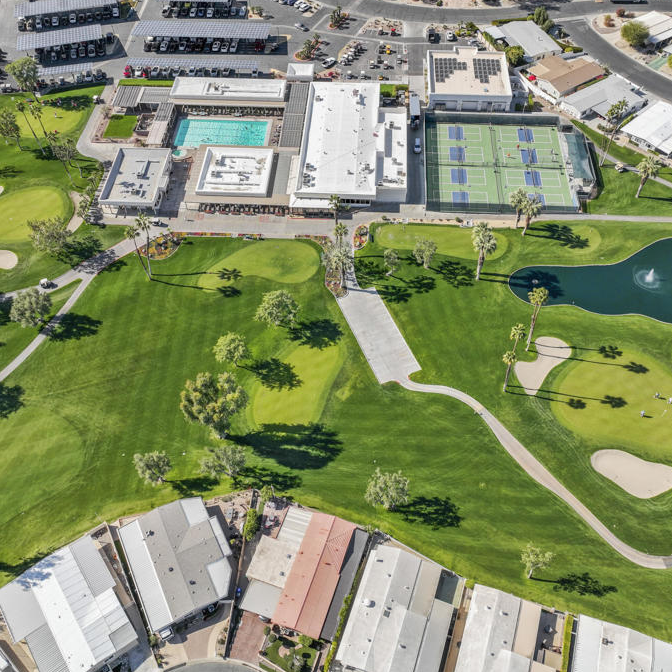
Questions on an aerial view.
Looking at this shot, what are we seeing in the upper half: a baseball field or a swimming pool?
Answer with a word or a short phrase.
swimming pool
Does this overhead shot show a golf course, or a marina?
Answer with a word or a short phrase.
golf course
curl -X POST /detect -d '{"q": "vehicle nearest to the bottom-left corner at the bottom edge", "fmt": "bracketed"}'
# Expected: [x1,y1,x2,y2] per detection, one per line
[158,625,179,649]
